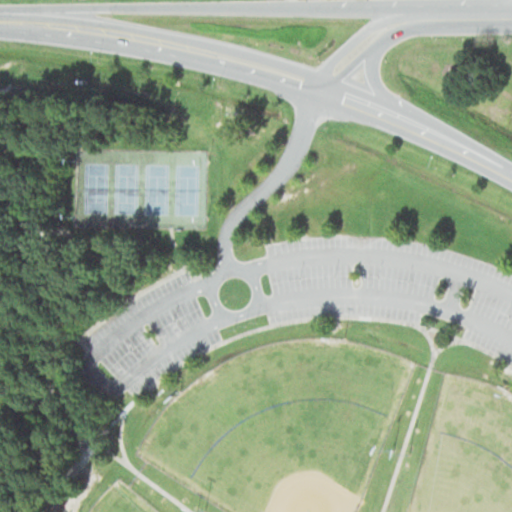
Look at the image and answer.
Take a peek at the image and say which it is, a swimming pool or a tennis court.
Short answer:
tennis court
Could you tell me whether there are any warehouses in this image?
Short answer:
No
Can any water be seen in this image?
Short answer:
No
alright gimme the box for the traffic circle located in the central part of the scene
[208,266,263,322]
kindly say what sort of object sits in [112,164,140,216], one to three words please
tennis court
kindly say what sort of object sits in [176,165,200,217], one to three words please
tennis court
